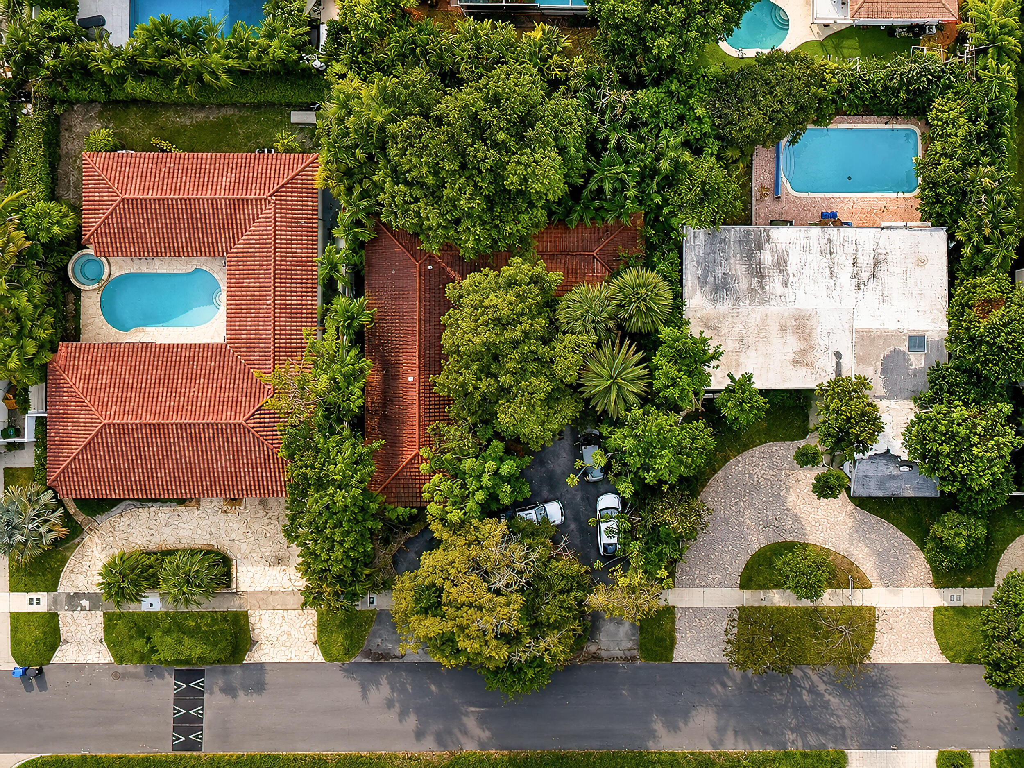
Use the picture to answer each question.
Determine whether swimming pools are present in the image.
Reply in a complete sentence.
Yes, the frame does contain a swimming pool.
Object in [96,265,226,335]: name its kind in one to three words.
swimming pool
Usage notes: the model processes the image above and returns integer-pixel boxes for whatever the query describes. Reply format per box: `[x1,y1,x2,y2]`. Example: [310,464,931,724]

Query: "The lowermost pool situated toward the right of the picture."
[780,124,922,196]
